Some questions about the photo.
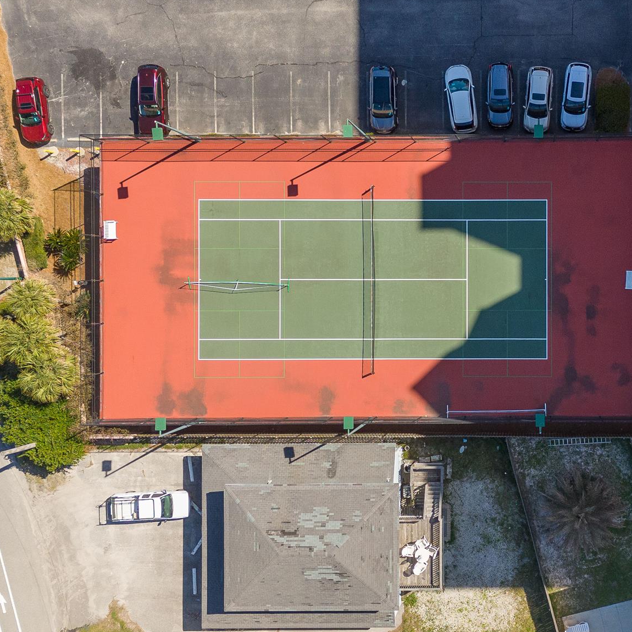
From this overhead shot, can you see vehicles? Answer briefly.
Yes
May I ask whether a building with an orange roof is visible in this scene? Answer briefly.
No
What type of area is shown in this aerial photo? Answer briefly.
sports ground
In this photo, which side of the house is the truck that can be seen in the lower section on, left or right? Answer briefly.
to the left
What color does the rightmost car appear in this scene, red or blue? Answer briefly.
blue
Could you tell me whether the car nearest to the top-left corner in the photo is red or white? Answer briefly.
red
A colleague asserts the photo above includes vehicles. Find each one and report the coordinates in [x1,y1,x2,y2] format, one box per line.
[135,63,172,135]
[559,61,593,135]
[102,490,193,524]
[484,61,517,131]
[14,75,57,145]
[443,65,477,135]
[522,65,555,135]
[366,65,399,135]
